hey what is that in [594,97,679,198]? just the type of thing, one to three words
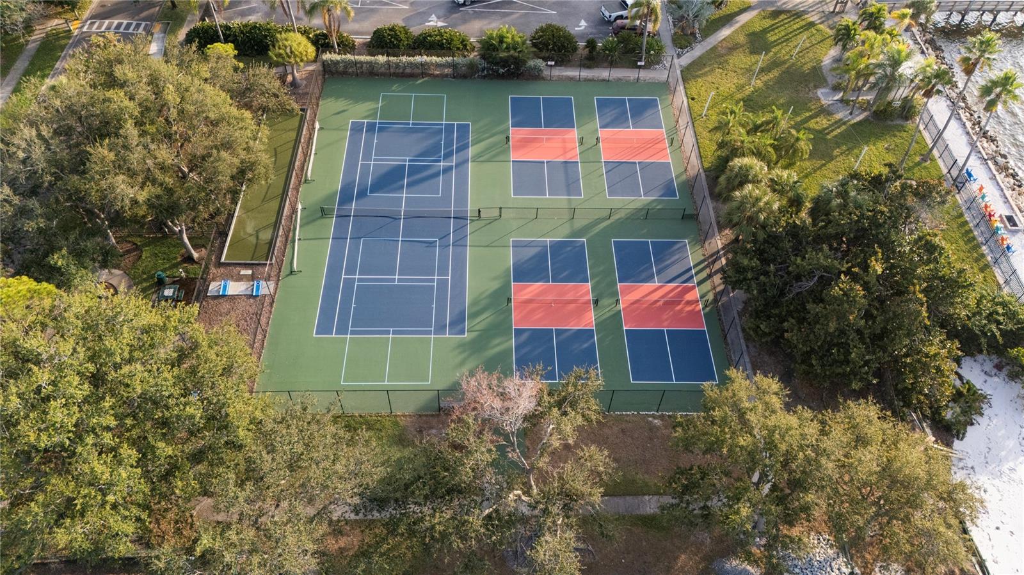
sports court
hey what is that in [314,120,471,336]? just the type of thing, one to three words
tennis court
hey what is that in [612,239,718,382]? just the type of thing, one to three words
sports court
